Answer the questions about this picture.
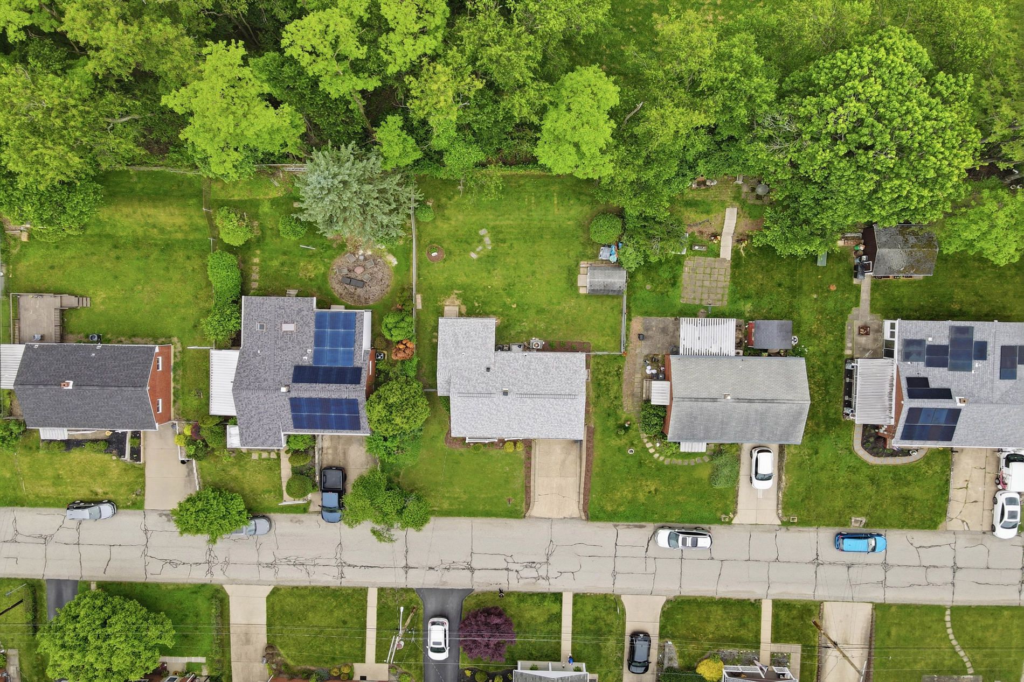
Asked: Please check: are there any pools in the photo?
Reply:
No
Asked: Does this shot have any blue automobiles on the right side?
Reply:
Yes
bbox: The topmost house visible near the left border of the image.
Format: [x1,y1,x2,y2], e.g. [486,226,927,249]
[12,343,176,434]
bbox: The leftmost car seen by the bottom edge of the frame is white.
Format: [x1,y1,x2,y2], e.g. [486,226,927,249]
[425,616,450,661]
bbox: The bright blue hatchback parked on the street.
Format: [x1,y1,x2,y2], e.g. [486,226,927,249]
[834,531,886,557]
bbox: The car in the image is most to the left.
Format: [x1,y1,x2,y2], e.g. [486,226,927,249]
[62,499,118,524]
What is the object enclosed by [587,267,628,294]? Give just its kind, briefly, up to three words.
shed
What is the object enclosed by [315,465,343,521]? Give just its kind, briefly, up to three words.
truck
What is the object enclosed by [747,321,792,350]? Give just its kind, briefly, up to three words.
shed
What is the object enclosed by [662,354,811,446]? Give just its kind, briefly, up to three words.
house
